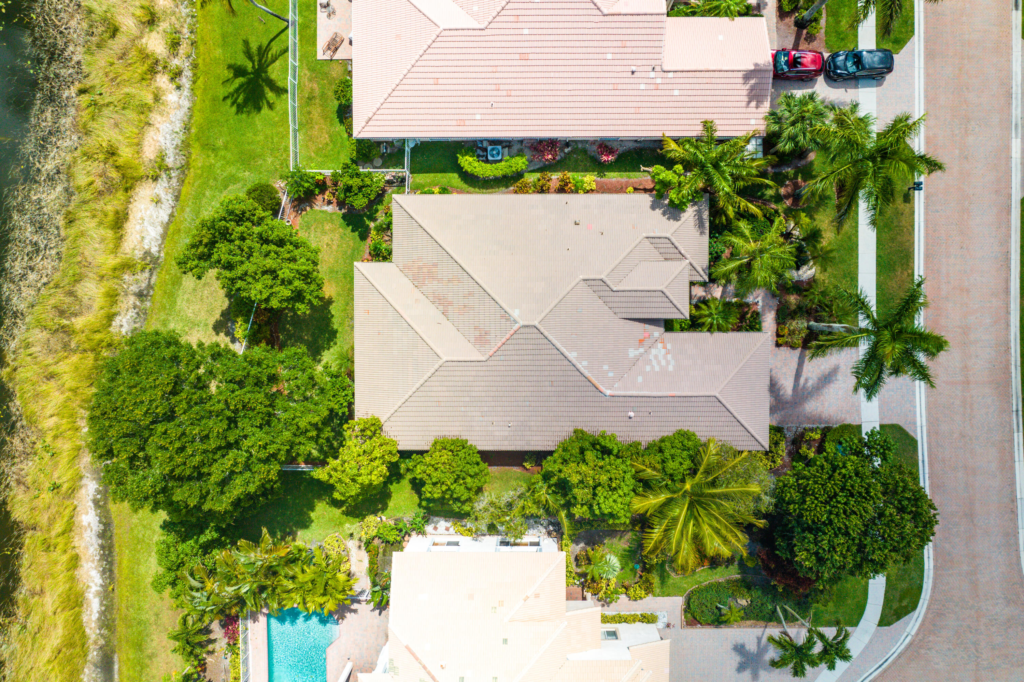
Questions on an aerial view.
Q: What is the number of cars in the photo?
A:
2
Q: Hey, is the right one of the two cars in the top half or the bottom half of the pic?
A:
top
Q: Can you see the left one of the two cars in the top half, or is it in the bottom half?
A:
top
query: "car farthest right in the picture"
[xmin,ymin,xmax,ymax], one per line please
[824,42,894,79]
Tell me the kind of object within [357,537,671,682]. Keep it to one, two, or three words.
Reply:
house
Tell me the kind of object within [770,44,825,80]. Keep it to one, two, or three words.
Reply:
car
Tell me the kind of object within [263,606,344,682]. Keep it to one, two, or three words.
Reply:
swimming pool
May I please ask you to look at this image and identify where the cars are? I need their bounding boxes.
[824,42,894,79]
[770,44,825,80]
